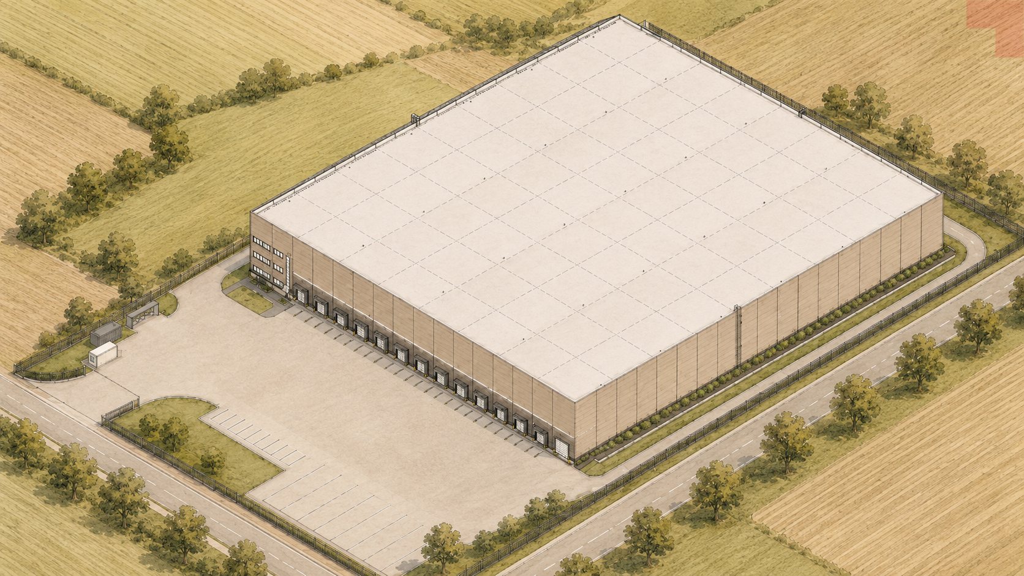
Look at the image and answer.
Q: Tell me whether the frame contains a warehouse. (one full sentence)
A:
Yes, a warehouse appears in the view.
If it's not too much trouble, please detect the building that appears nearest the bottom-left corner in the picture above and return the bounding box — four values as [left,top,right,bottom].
[88,339,118,367]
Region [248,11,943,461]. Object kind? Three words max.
warehouse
